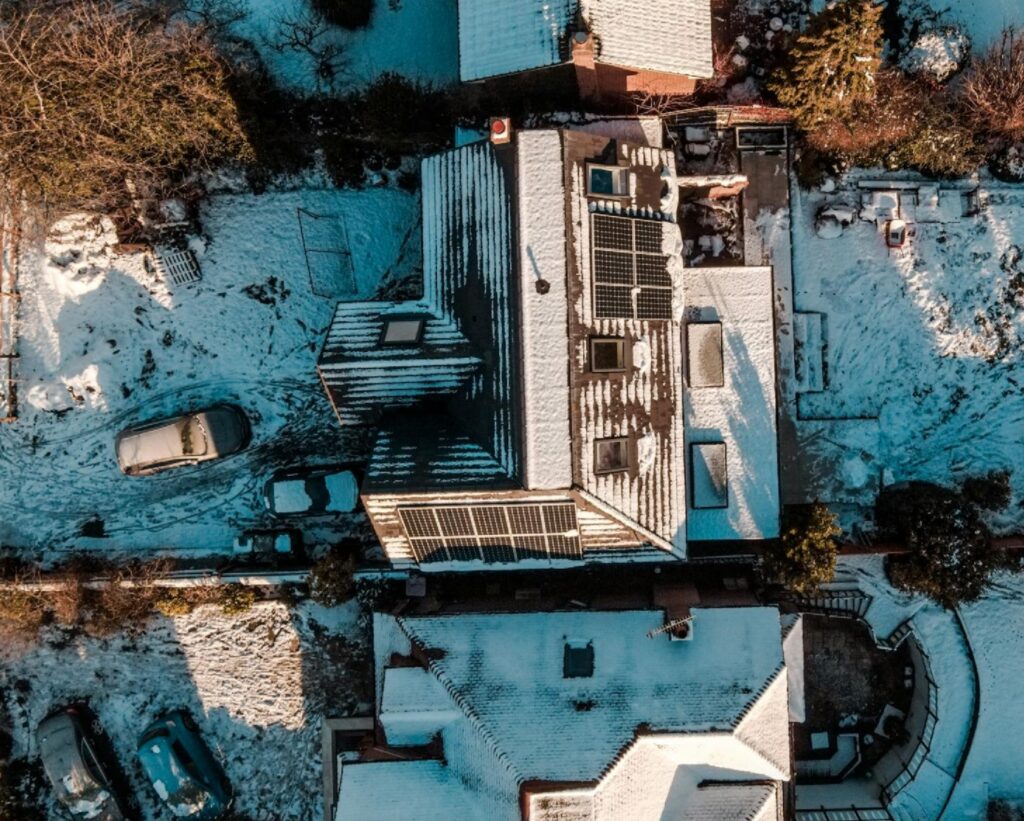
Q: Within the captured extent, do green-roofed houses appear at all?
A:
No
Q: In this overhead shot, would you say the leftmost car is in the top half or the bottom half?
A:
bottom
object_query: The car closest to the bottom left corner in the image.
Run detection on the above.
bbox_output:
[37,700,137,821]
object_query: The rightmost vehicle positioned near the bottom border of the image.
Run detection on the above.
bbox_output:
[141,708,238,821]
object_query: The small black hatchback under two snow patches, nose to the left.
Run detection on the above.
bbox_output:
[267,463,366,522]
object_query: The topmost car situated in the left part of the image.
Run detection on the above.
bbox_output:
[116,402,261,478]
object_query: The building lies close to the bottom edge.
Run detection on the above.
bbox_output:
[333,546,804,821]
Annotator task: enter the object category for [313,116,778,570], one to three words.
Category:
house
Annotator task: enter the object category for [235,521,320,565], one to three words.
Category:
trailer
